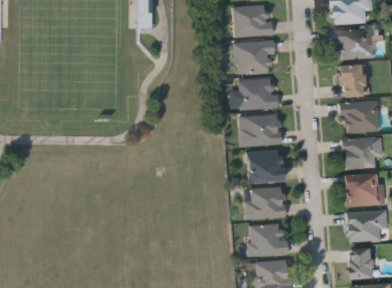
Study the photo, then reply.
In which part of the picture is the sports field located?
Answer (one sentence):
The sports field is in the top left part of the image.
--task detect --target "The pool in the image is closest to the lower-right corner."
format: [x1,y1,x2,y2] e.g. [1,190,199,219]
[376,258,392,278]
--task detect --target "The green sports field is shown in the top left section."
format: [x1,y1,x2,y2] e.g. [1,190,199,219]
[8,0,136,121]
